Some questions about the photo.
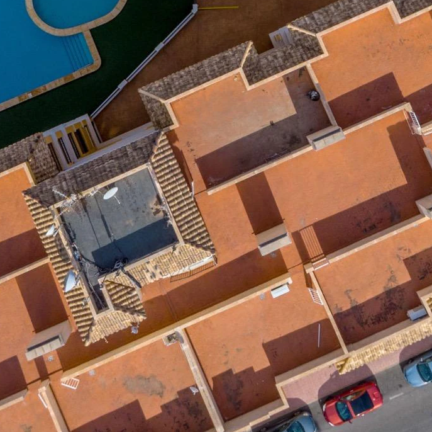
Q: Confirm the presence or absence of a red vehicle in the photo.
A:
Yes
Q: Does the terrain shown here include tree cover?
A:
No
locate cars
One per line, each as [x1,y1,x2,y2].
[401,347,432,386]
[321,378,385,425]
[254,408,318,432]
